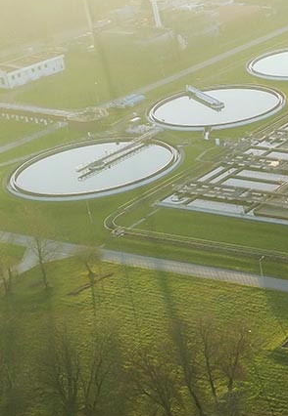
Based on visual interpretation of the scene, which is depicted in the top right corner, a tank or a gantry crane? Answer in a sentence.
The feature located in the top right corner is a tank.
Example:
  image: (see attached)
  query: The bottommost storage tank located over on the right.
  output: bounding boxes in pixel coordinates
[147,84,288,132]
